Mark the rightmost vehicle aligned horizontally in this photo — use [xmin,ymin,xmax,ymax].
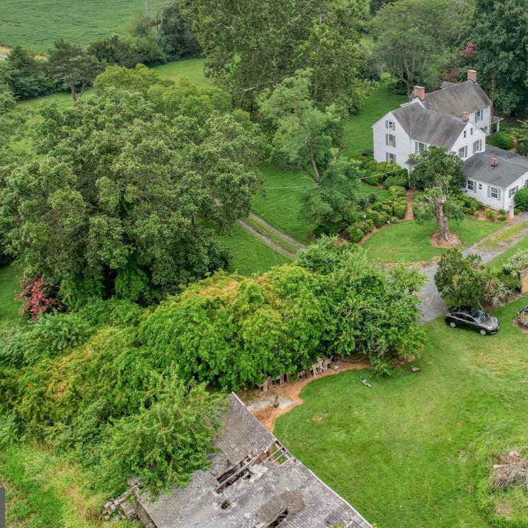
[442,306,499,336]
